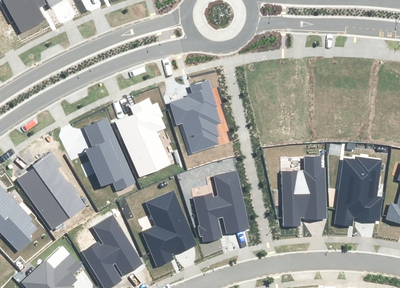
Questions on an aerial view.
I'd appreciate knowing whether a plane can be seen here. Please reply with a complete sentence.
No, there is no plane in the image.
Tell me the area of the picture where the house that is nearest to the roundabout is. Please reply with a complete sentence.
The house that is nearest to the roundabout sits in the center section of the image.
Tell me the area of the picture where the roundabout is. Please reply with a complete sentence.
The roundabout is in the top part of the image.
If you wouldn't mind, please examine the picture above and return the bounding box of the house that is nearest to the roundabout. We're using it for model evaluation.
[170,80,222,155]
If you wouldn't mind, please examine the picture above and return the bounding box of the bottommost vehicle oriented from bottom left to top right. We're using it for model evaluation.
[0,148,14,163]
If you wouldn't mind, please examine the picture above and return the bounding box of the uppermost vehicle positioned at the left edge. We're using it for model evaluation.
[18,117,38,134]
